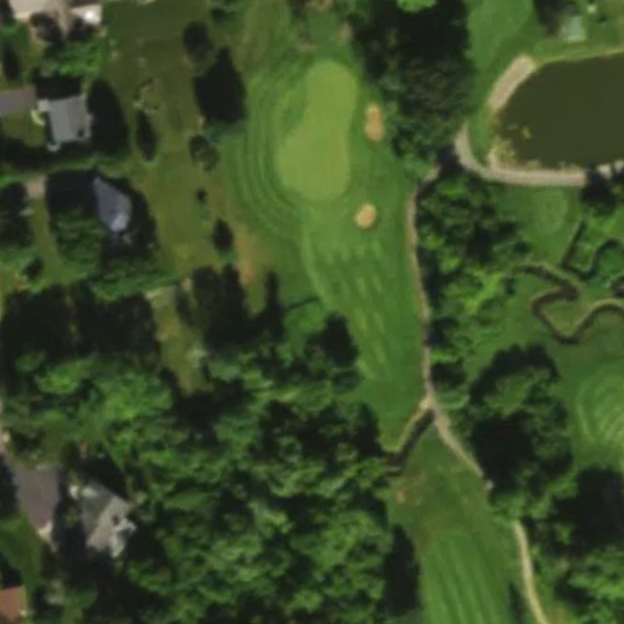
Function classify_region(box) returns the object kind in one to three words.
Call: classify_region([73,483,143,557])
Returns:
house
